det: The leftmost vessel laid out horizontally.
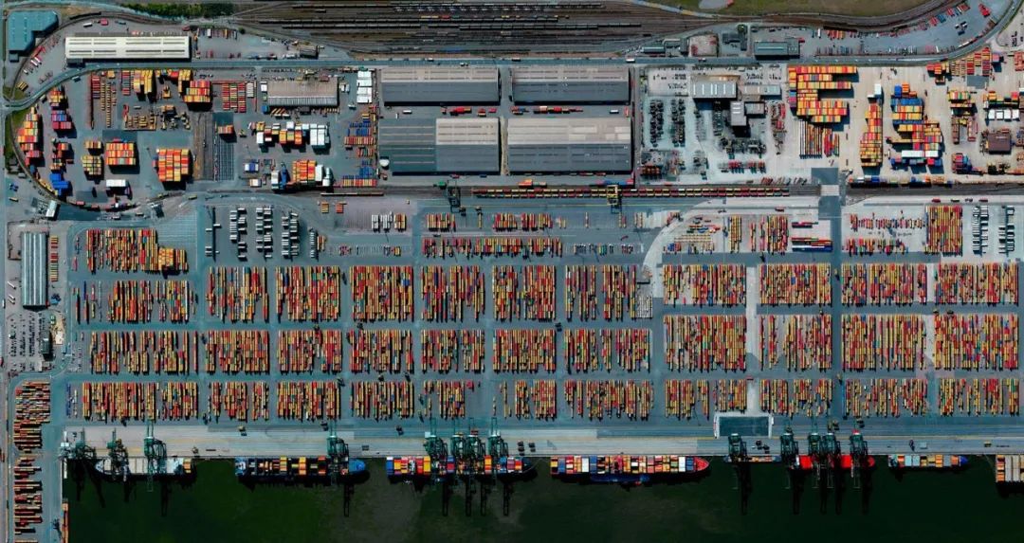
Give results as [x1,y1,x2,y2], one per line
[95,459,194,474]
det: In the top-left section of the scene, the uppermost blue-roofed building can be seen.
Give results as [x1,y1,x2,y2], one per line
[9,11,59,50]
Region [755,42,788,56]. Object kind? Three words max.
shed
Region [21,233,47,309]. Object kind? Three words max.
building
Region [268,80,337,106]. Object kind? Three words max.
shed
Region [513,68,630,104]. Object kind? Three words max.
building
